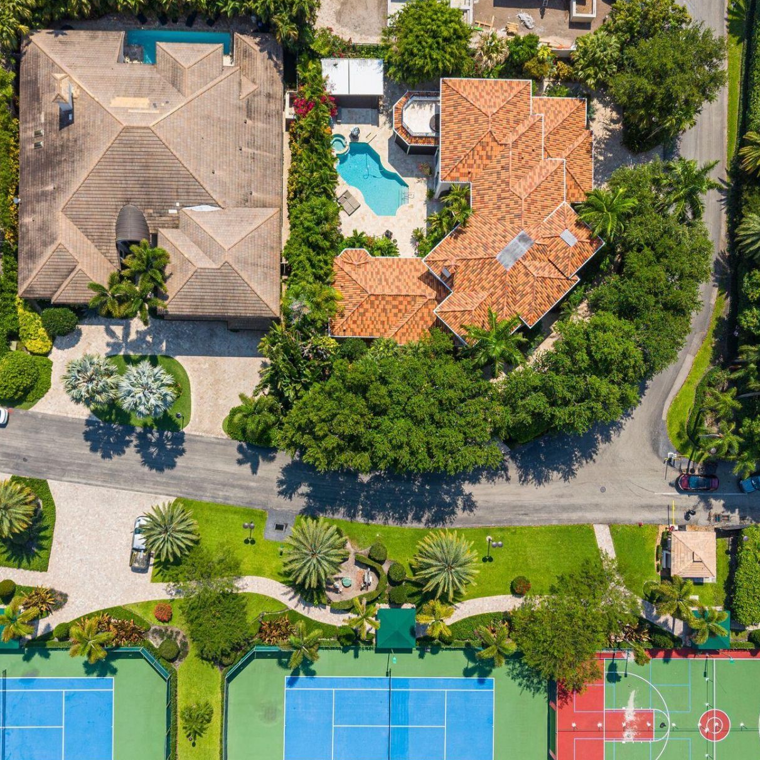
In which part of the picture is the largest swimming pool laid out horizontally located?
top left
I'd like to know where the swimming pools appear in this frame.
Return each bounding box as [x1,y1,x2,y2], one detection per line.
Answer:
[335,140,411,218]
[332,134,351,155]
[124,28,233,65]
